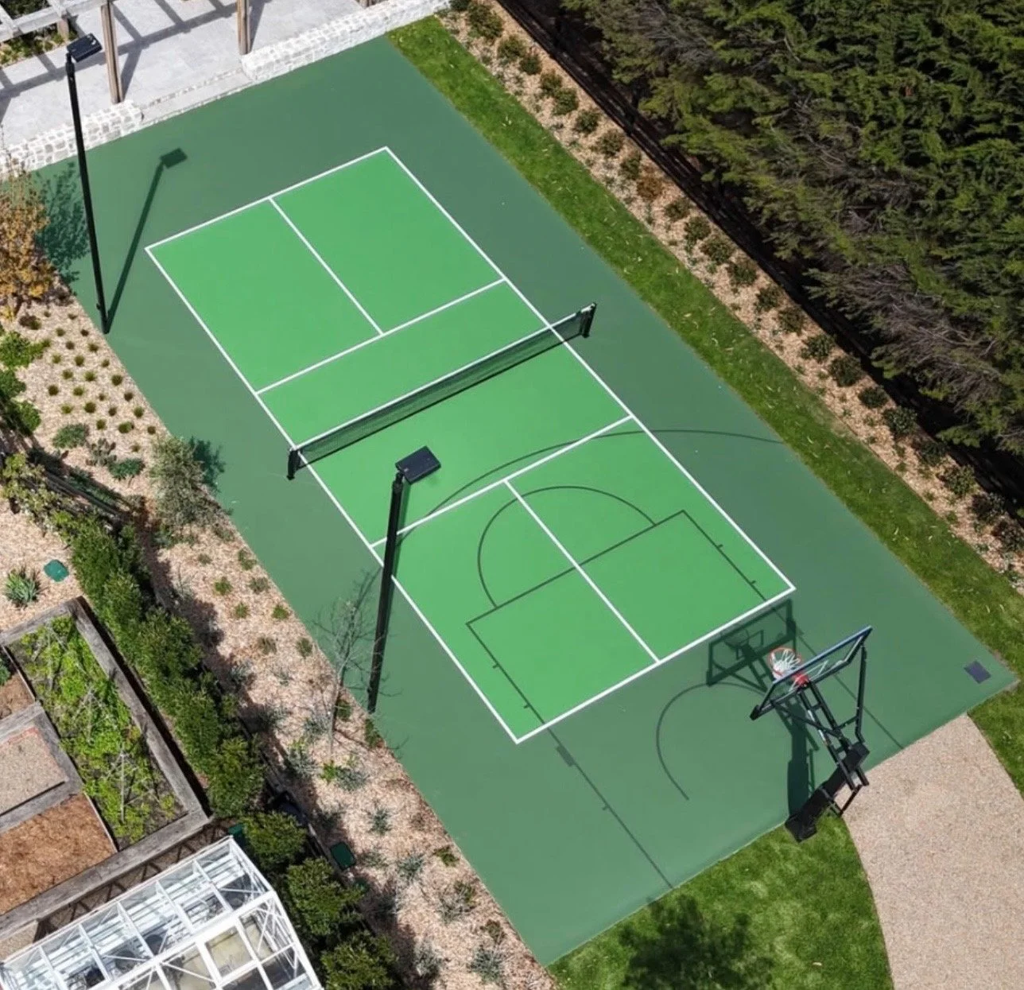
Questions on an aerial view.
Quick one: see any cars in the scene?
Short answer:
No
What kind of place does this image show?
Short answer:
sports ground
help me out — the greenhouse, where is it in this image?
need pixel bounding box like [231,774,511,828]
[0,837,324,990]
